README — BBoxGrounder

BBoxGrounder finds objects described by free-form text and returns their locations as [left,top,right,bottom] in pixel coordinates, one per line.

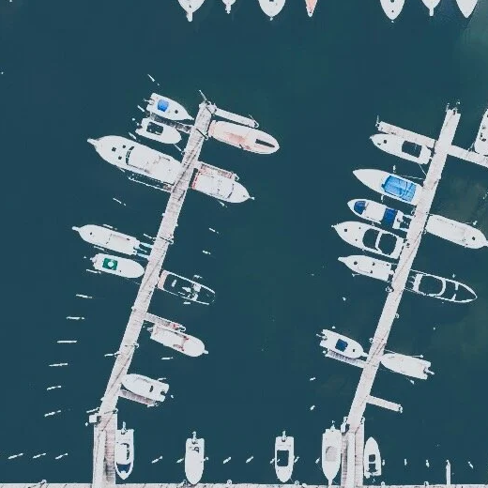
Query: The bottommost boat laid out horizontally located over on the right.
[380,353,437,382]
